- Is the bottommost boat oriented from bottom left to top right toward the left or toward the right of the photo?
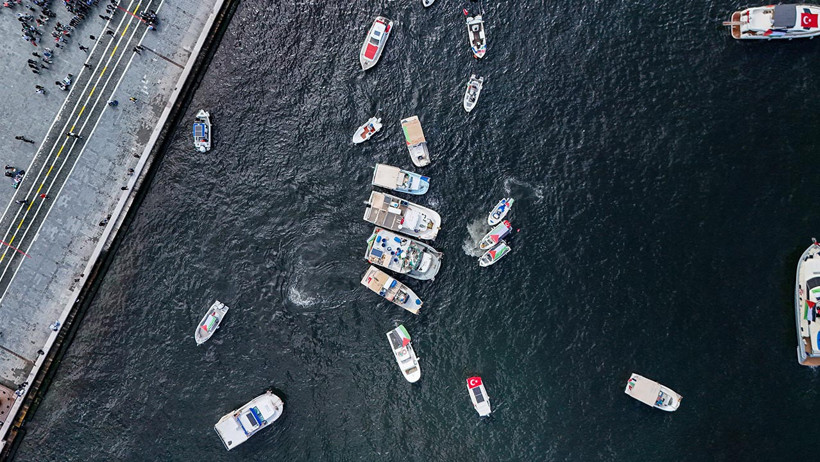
left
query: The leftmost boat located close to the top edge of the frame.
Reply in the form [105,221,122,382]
[362,16,392,70]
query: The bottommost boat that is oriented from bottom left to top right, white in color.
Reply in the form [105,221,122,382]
[215,392,286,450]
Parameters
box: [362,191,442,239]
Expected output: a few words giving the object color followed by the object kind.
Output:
white boat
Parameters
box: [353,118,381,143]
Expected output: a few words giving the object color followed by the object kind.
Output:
white boat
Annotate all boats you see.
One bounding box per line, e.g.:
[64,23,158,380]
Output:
[465,16,487,58]
[790,237,820,365]
[365,226,445,281]
[194,109,212,152]
[621,372,681,409]
[480,241,511,266]
[215,392,286,450]
[488,197,511,225]
[372,164,431,192]
[467,375,491,417]
[386,322,420,384]
[480,220,512,249]
[196,301,229,345]
[465,74,483,112]
[362,191,442,239]
[362,16,392,70]
[361,265,424,313]
[401,115,427,167]
[722,3,820,42]
[353,118,381,143]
